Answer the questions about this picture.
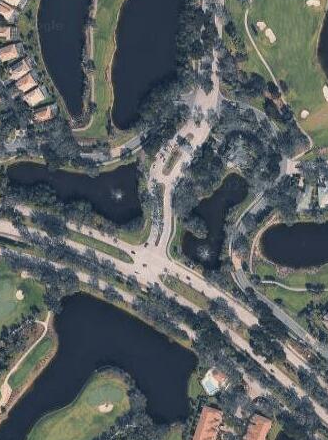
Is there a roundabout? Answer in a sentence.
Yes, the frame does contain a roundabout.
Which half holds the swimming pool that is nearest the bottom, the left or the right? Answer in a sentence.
It is on the right.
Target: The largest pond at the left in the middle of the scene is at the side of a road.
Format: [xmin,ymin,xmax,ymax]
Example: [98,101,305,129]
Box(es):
[7,162,143,225]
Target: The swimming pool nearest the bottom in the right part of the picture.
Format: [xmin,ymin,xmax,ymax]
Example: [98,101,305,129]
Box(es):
[202,368,226,395]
